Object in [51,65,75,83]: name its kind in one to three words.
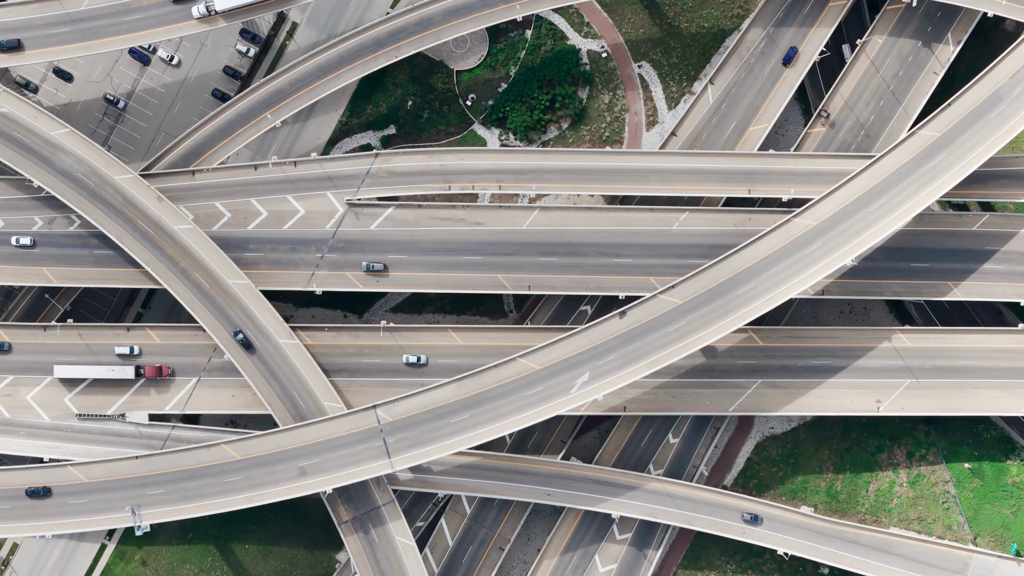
car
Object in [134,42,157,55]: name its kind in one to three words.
vehicle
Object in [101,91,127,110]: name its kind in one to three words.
car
